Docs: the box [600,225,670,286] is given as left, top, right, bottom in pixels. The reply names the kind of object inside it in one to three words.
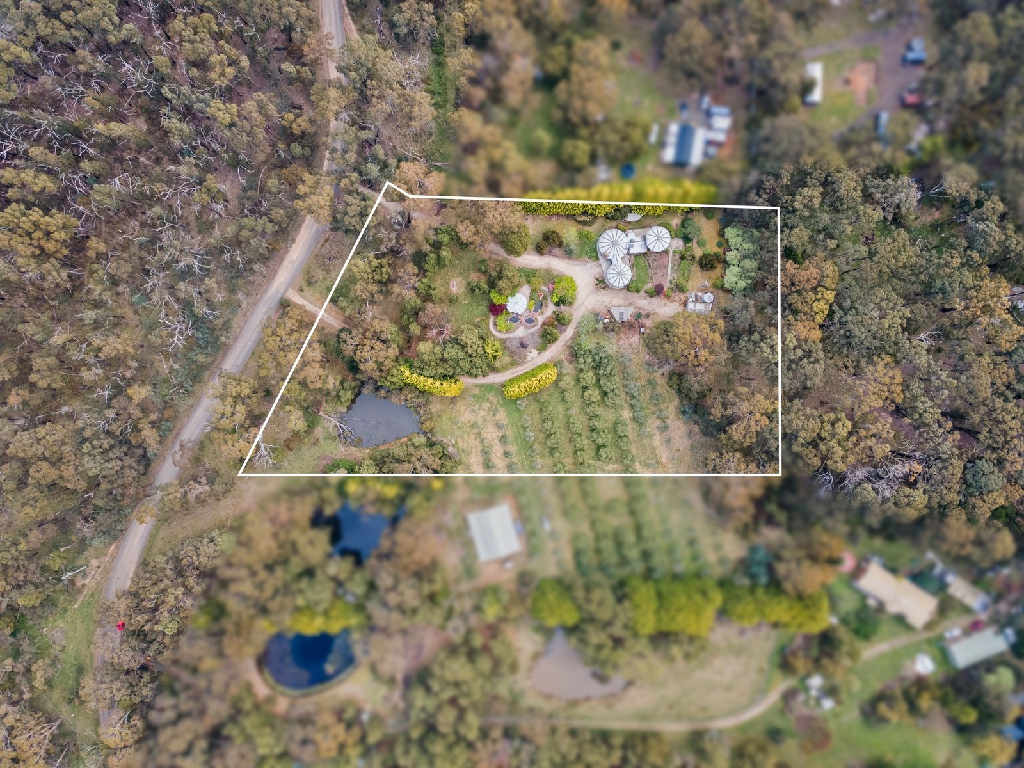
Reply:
house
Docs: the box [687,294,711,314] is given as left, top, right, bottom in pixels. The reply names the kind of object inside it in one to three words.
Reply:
shed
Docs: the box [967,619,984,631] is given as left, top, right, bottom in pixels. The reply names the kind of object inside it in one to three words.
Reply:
vehicle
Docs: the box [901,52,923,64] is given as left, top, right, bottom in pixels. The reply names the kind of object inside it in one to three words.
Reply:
vehicle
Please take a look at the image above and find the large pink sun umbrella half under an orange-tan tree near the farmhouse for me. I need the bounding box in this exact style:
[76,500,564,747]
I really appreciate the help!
[837,553,856,571]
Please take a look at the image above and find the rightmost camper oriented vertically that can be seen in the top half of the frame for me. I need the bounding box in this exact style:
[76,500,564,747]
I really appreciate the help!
[876,110,889,138]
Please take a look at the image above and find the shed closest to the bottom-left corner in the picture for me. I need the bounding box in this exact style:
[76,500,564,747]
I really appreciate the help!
[467,502,521,561]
